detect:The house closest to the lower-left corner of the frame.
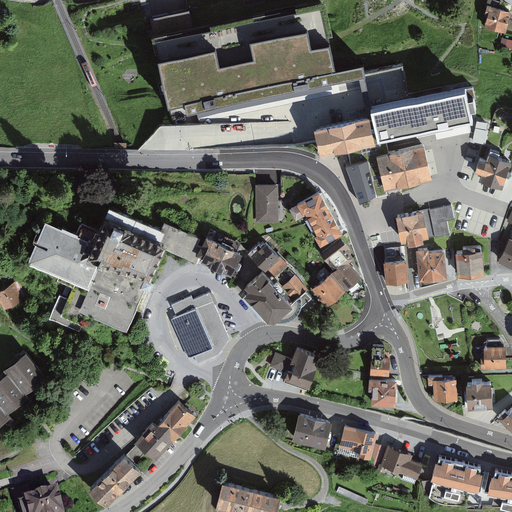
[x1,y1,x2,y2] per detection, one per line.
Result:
[23,478,66,512]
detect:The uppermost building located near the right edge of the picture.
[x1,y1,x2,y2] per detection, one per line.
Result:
[483,5,512,34]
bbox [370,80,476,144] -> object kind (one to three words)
building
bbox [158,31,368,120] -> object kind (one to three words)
building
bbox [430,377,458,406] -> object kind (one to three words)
house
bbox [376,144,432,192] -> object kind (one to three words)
house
